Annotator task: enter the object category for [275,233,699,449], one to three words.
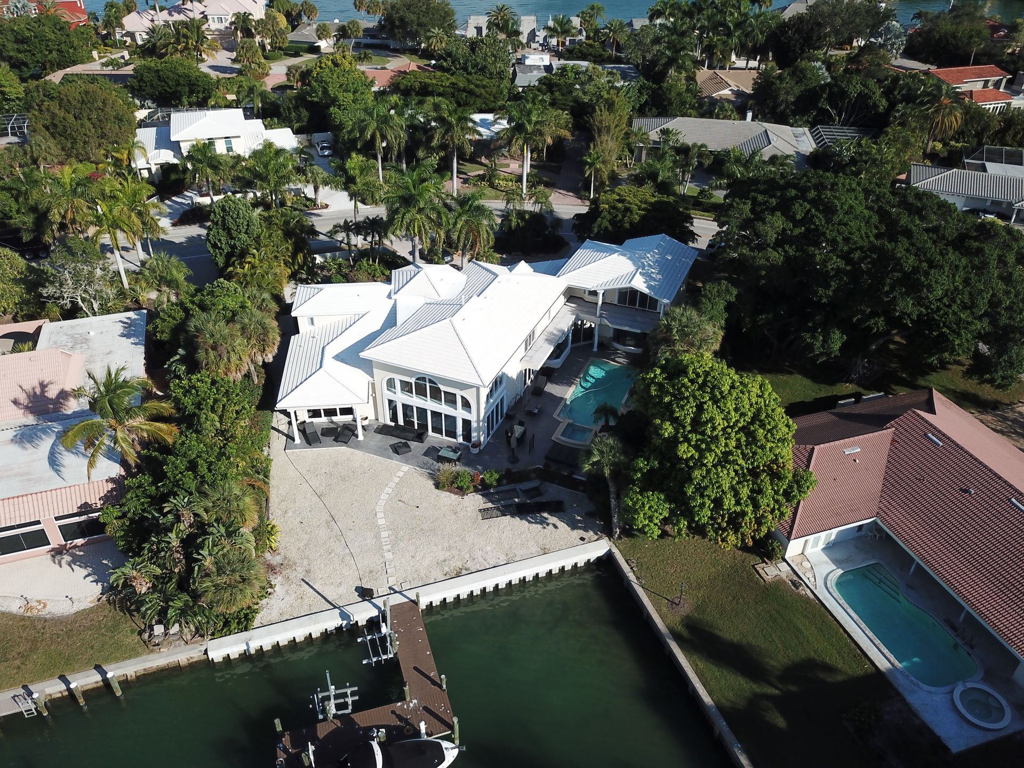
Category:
house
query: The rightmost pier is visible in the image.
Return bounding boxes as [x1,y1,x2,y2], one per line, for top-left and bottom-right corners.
[276,601,464,768]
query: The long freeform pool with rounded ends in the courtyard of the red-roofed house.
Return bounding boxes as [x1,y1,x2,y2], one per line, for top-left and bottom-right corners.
[828,558,985,694]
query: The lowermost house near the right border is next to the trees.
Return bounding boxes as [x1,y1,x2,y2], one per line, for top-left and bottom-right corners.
[741,387,1024,708]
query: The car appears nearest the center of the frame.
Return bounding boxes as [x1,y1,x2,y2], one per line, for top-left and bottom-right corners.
[424,241,459,263]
